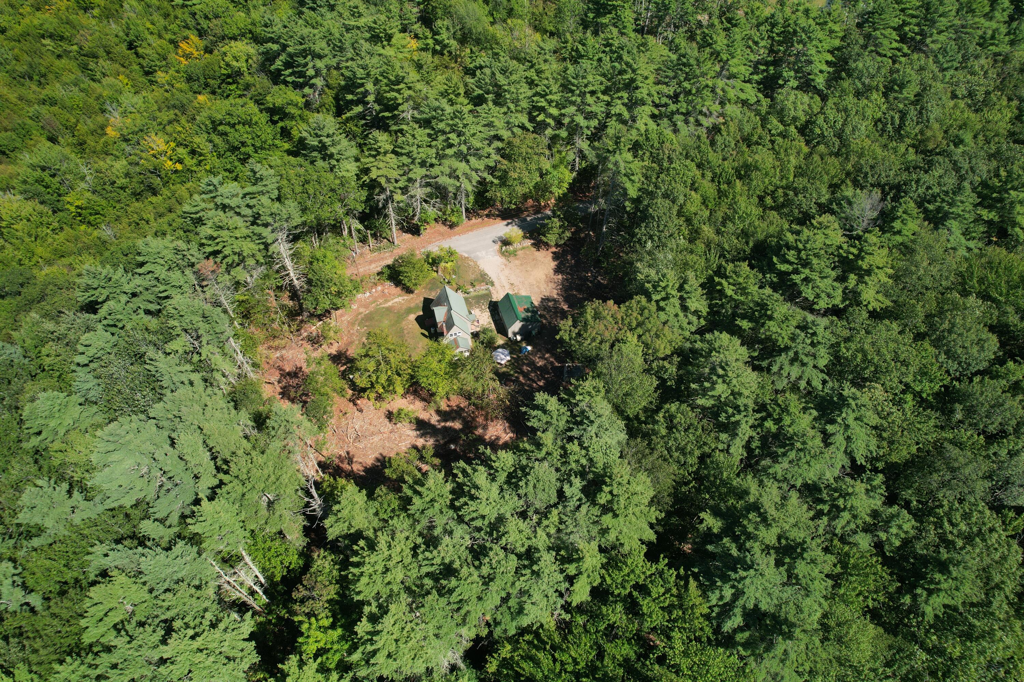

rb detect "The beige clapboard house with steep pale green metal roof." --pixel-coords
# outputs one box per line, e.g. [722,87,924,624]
[430,285,480,364]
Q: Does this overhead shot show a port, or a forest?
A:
forest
